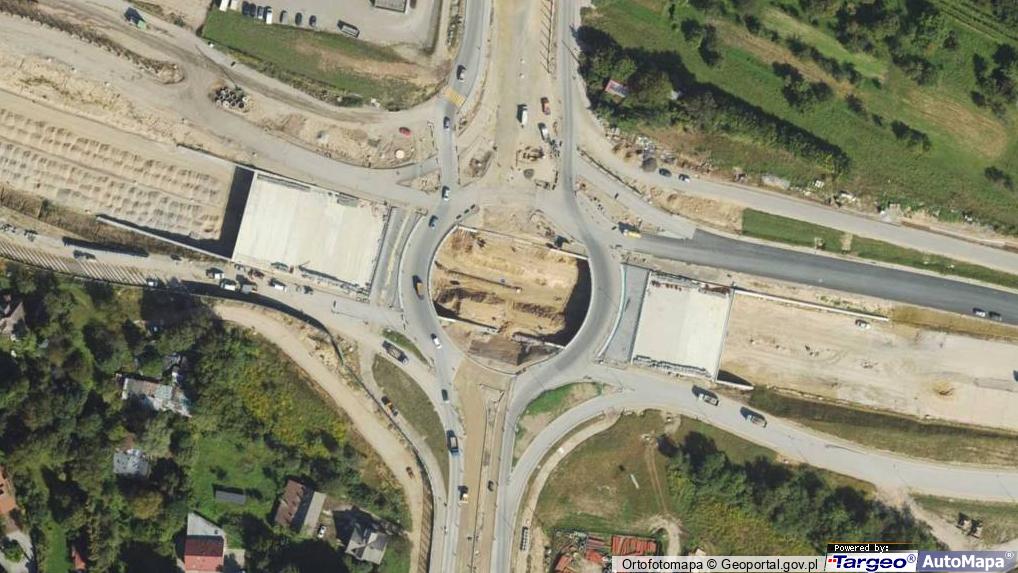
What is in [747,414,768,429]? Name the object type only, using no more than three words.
vehicle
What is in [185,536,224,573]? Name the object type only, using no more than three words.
house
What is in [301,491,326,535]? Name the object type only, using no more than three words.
shed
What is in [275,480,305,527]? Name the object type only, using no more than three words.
barn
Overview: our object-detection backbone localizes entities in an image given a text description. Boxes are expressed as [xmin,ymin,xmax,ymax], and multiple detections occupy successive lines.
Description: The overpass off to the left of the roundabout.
[233,172,388,292]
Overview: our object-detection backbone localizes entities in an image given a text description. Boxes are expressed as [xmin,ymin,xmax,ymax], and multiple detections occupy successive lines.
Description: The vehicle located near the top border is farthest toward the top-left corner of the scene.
[125,13,145,31]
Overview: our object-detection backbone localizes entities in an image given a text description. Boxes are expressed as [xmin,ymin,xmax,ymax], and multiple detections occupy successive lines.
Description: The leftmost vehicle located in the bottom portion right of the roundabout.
[698,393,720,406]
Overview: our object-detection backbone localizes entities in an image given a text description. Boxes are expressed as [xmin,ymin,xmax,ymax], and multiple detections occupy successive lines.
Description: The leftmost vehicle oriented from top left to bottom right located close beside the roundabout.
[385,344,408,363]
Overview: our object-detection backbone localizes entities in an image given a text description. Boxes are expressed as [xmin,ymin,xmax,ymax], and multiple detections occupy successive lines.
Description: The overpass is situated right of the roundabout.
[633,273,735,378]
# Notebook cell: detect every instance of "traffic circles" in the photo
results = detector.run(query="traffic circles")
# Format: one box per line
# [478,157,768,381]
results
[398,187,622,403]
